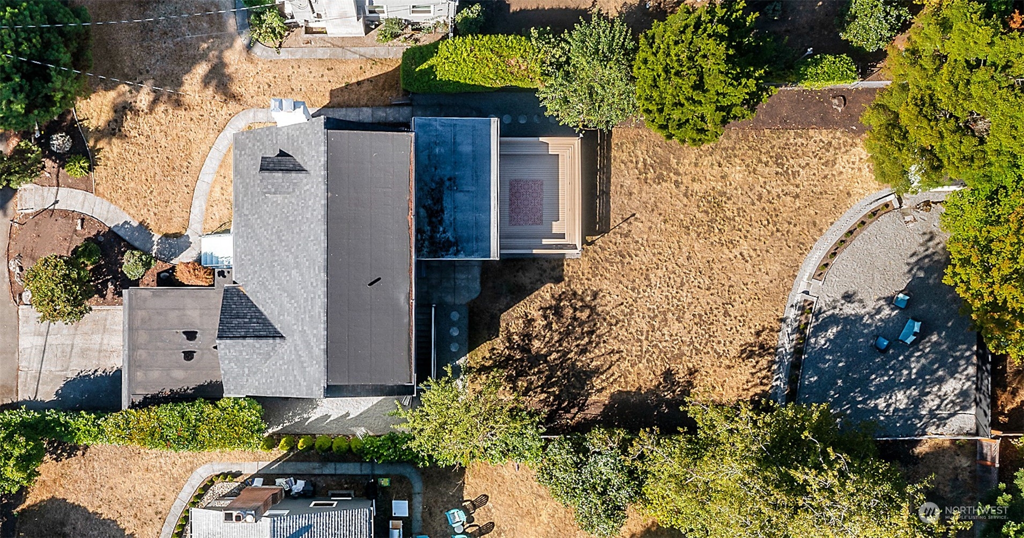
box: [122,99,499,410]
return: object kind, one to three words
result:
house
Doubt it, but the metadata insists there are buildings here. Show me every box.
[188,482,380,538]
[270,0,459,36]
[122,99,499,410]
